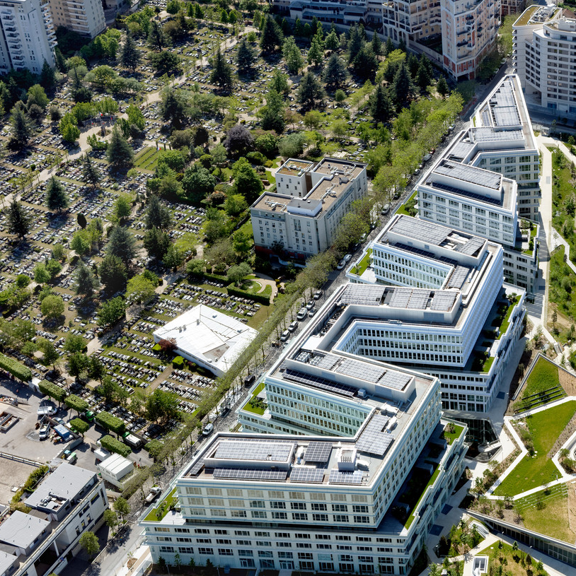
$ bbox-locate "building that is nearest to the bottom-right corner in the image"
[460,479,576,567]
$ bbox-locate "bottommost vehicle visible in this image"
[144,484,161,503]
